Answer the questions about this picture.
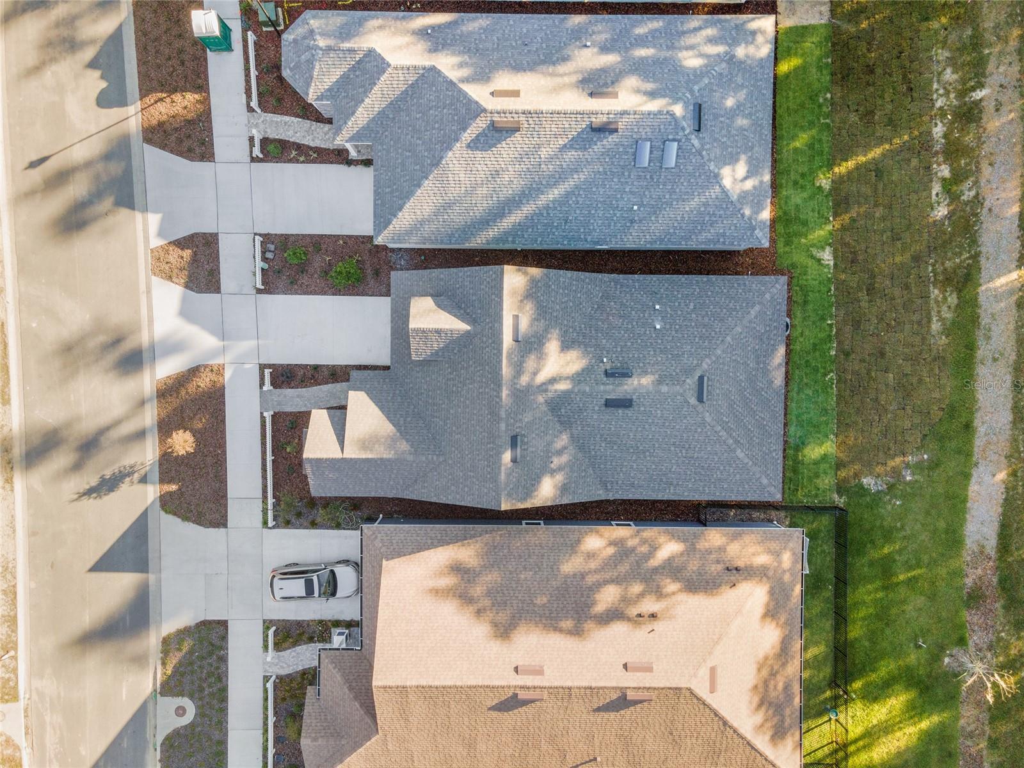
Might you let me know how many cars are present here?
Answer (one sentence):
The photo contains exactly 1 car.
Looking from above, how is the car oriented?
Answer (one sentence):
Seen from above, the car lies from left to right.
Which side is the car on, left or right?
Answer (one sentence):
The car is on the left side of the image.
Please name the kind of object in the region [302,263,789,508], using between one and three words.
house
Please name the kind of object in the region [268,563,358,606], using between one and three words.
car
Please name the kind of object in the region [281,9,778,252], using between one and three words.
house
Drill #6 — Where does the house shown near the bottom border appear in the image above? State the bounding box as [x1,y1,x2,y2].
[300,514,808,768]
